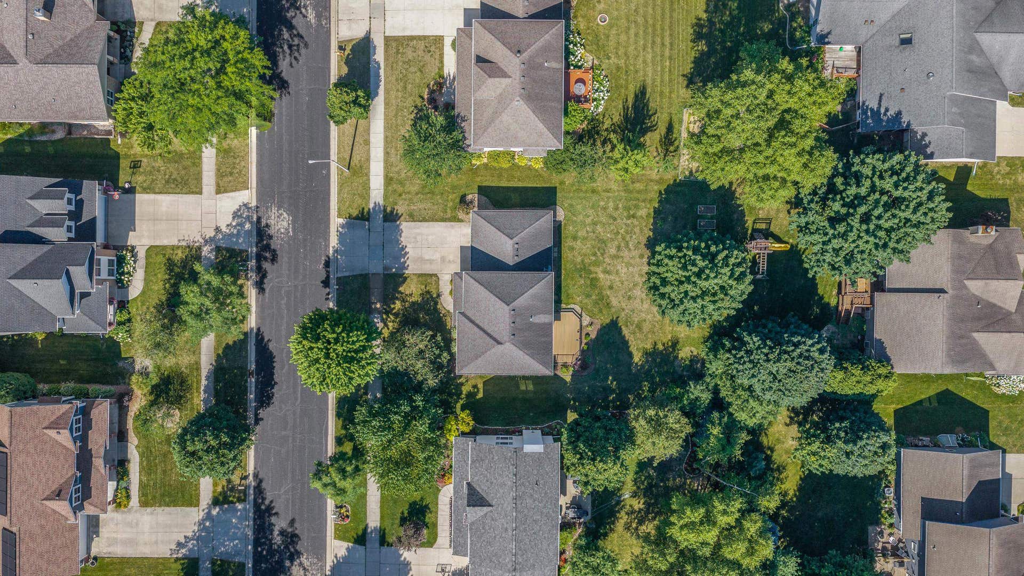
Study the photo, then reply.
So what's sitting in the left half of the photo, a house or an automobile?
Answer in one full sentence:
It is a house that can be seen in the left half of the photo.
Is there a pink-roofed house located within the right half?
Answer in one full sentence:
No, within the right half there is no pink-roofed house.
